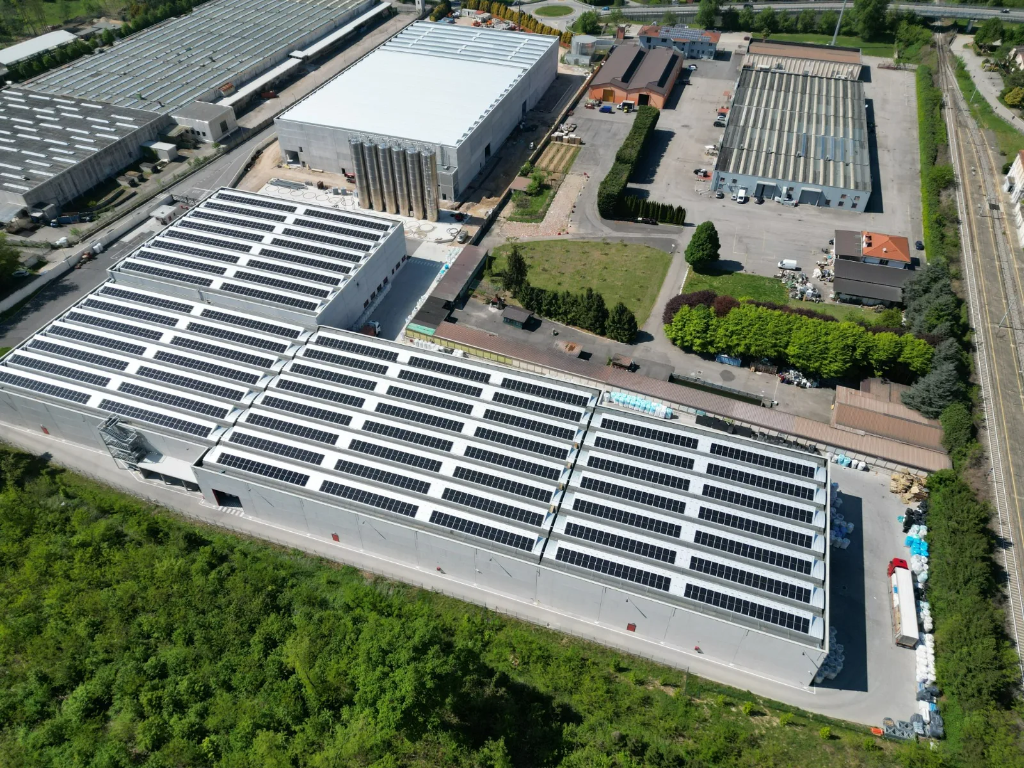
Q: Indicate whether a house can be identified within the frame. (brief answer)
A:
Yes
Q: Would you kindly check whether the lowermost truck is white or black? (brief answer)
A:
white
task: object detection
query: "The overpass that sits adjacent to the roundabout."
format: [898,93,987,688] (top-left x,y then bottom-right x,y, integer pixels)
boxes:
[601,1,1024,27]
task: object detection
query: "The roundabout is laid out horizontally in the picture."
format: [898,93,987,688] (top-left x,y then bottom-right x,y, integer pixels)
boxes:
[516,0,591,22]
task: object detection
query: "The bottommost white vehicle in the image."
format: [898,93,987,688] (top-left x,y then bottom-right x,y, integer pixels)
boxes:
[887,555,922,652]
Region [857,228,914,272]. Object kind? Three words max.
house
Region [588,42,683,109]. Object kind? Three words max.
building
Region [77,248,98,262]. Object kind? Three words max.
work vehicle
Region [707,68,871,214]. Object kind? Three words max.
warehouse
